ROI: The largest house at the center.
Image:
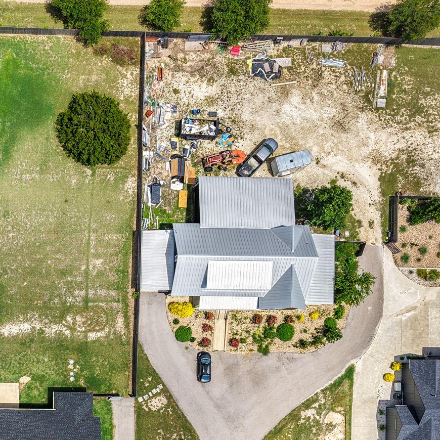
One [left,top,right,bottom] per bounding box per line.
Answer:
[141,177,337,311]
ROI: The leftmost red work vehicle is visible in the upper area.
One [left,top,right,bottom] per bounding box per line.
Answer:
[197,152,226,169]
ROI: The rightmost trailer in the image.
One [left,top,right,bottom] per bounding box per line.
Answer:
[271,150,314,176]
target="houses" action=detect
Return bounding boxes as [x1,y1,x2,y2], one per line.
[0,391,102,440]
[141,177,337,311]
[382,355,440,440]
